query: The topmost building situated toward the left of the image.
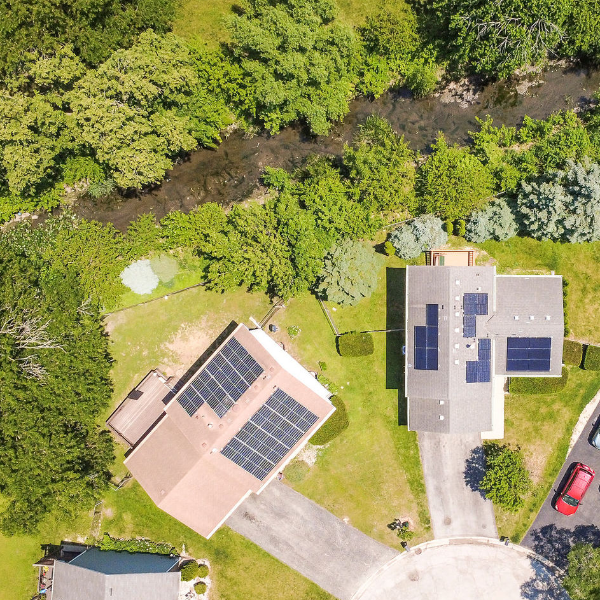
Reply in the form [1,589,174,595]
[124,323,338,539]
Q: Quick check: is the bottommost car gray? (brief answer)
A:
No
